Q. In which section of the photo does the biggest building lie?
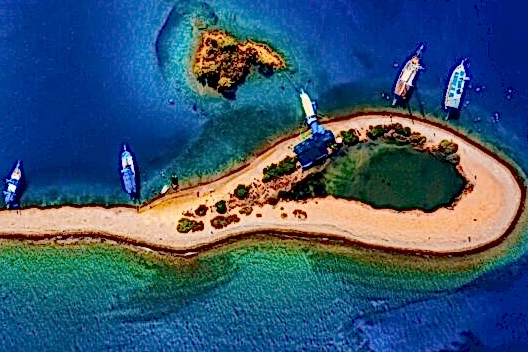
center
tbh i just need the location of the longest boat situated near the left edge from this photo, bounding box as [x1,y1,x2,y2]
[6,158,21,209]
